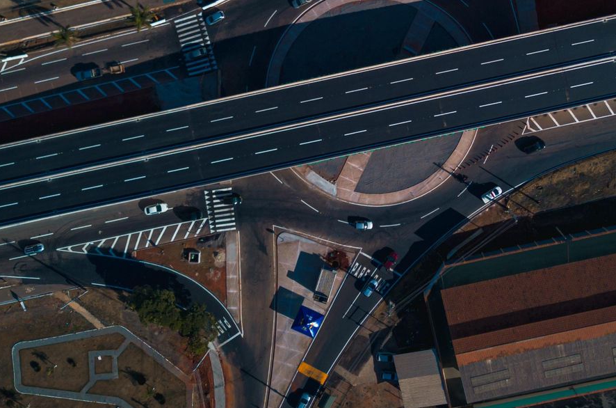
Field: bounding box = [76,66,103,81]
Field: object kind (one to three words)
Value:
vehicle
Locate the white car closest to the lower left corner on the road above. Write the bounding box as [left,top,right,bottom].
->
[143,202,169,217]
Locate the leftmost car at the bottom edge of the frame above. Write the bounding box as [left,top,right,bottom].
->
[296,392,313,408]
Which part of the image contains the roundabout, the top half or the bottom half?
top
